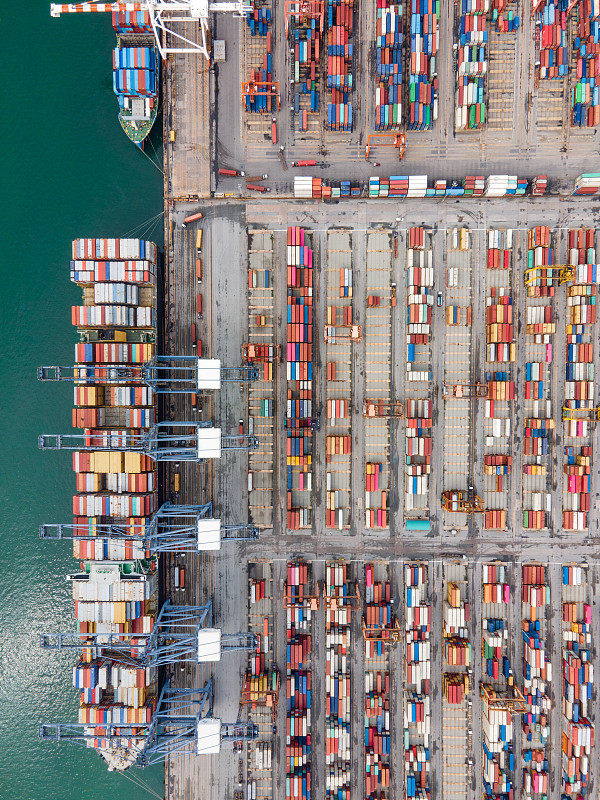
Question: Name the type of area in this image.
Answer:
port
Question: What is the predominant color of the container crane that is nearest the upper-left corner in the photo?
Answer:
white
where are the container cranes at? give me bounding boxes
[360,614,404,641]
[478,681,527,712]
[51,0,248,69]
[284,415,323,434]
[34,356,259,399]
[322,324,363,344]
[280,584,320,609]
[523,265,574,288]
[34,496,259,552]
[320,584,362,609]
[441,382,488,401]
[363,133,407,162]
[34,417,259,462]
[238,675,278,705]
[34,672,259,770]
[284,1,323,38]
[242,342,282,362]
[440,494,487,516]
[34,593,259,673]
[241,82,281,113]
